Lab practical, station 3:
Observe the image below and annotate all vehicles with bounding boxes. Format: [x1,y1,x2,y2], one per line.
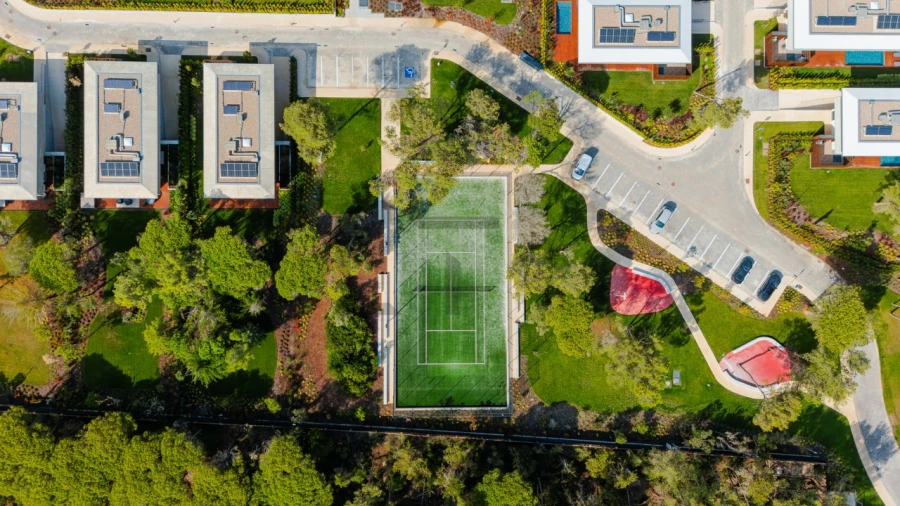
[572,151,594,179]
[651,204,674,232]
[519,51,544,73]
[730,257,753,284]
[758,271,780,300]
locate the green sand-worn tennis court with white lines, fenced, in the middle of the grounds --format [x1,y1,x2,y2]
[395,176,508,409]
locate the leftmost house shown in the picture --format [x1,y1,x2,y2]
[0,83,74,210]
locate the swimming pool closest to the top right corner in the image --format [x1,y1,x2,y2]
[845,52,885,66]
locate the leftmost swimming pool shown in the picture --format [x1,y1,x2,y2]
[555,1,572,34]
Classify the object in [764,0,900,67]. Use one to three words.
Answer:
house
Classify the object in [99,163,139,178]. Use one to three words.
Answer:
solar panel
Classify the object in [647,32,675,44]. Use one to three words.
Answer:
solar panel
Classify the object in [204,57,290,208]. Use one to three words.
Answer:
house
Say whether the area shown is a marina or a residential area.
residential area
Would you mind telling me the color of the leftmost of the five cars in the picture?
blue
